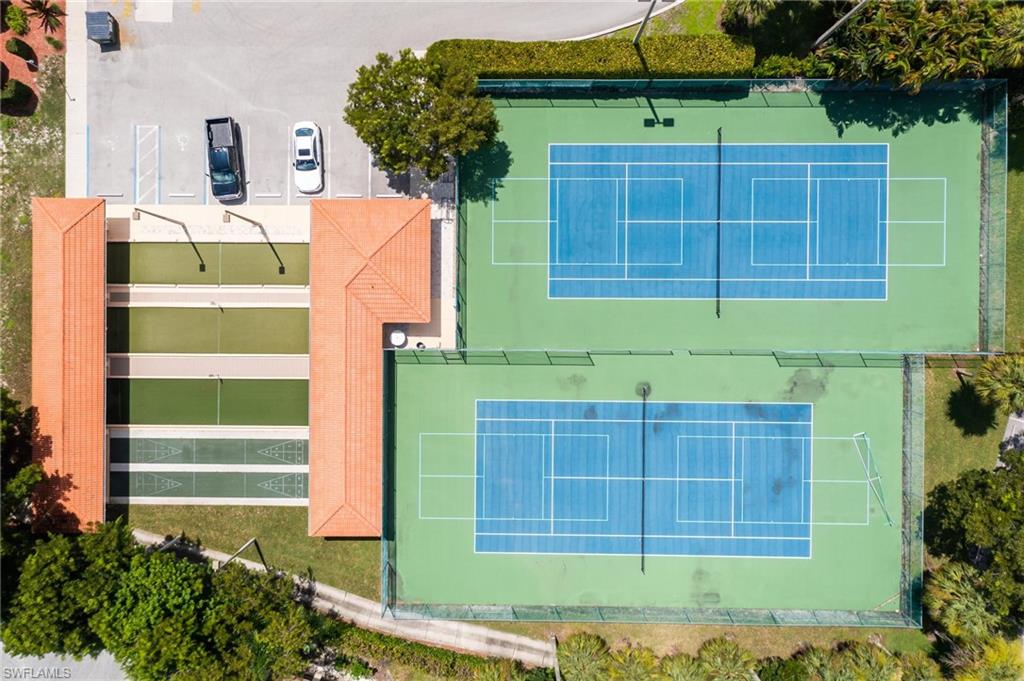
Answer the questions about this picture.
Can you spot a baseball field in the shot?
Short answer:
No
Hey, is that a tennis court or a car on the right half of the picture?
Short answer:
tennis court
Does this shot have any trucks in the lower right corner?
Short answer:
No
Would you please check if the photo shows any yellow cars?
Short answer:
No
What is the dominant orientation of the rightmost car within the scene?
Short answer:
vertically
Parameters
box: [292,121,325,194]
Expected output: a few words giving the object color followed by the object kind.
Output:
white car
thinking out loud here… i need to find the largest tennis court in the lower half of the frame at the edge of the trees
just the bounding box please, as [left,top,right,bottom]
[388,350,904,610]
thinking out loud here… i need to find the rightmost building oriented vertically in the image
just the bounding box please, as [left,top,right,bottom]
[309,198,433,538]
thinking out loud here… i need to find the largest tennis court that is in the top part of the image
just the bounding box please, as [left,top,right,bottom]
[459,95,981,350]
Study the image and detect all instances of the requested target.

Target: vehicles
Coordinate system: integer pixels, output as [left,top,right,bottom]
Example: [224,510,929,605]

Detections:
[292,121,325,194]
[204,115,245,200]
